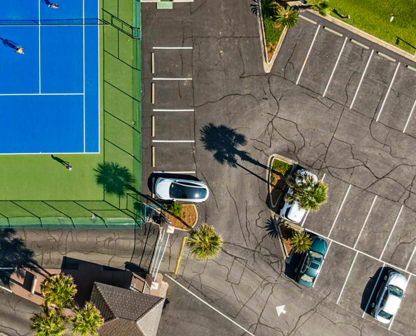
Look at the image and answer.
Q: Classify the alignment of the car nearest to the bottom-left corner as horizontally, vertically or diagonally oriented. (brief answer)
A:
horizontally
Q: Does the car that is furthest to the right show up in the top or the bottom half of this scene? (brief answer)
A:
bottom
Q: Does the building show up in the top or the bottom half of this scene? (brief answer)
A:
bottom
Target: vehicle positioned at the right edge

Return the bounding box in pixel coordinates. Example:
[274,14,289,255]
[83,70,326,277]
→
[372,269,407,323]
